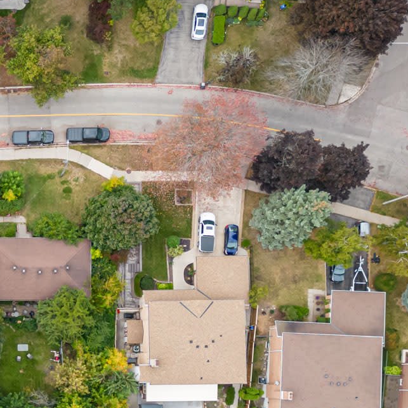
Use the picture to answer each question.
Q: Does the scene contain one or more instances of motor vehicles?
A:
Yes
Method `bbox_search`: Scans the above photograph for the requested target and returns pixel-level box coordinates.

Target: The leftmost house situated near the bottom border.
[126,255,250,401]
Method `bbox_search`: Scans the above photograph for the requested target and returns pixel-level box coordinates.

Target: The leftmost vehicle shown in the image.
[12,127,54,145]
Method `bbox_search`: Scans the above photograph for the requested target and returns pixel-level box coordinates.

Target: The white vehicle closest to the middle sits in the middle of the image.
[197,212,216,253]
